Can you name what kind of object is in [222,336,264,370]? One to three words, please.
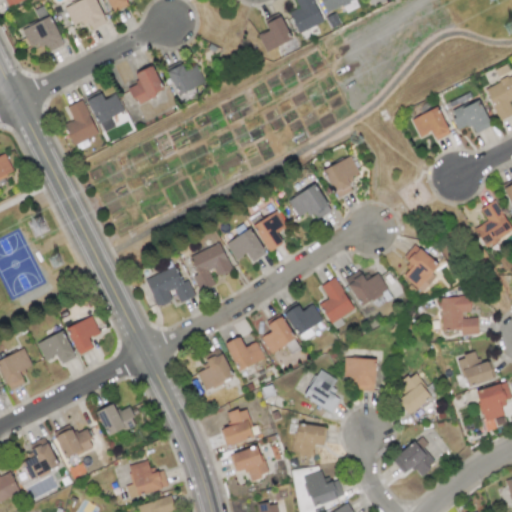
house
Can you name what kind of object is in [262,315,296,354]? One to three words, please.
house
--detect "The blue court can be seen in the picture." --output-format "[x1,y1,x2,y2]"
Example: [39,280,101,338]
[0,228,46,299]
